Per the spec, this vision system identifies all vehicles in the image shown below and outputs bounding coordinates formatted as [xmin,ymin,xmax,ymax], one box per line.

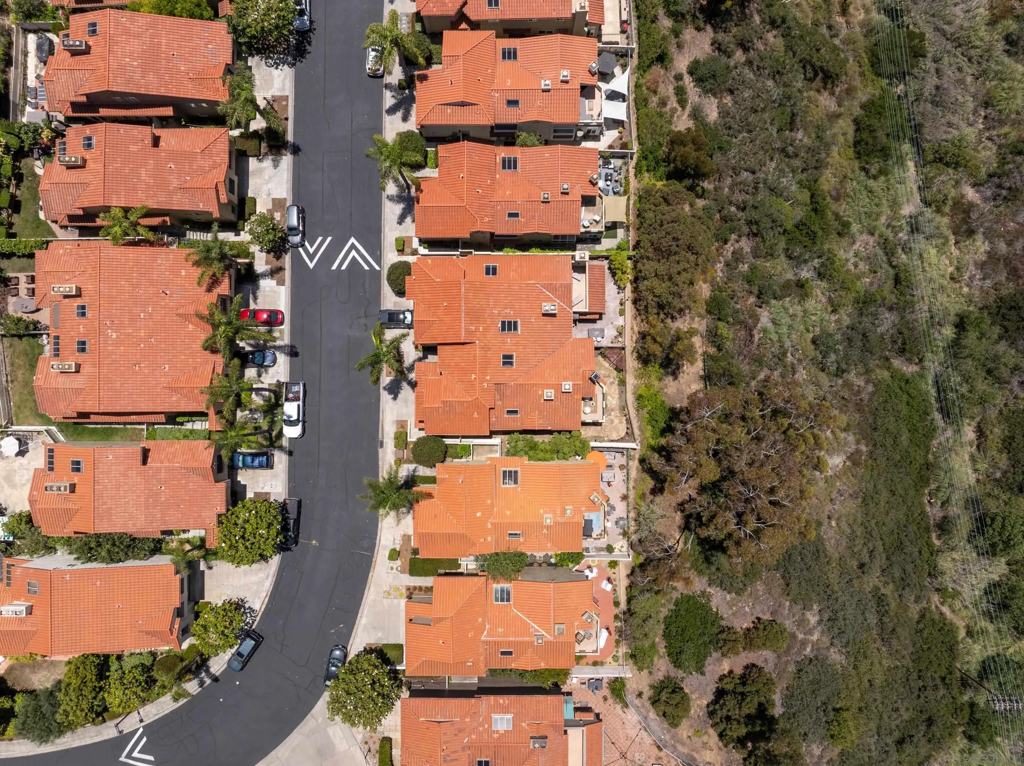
[229,628,262,674]
[241,307,286,327]
[293,0,314,34]
[364,37,385,82]
[323,639,348,686]
[233,451,275,471]
[286,204,307,249]
[280,496,302,549]
[375,308,414,330]
[236,349,279,369]
[282,381,307,437]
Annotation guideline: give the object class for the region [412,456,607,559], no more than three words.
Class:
house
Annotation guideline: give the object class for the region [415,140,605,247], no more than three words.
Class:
house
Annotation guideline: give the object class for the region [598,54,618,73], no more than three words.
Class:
umbrella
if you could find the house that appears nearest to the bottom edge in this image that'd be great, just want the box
[400,674,603,766]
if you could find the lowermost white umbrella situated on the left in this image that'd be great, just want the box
[0,436,28,457]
